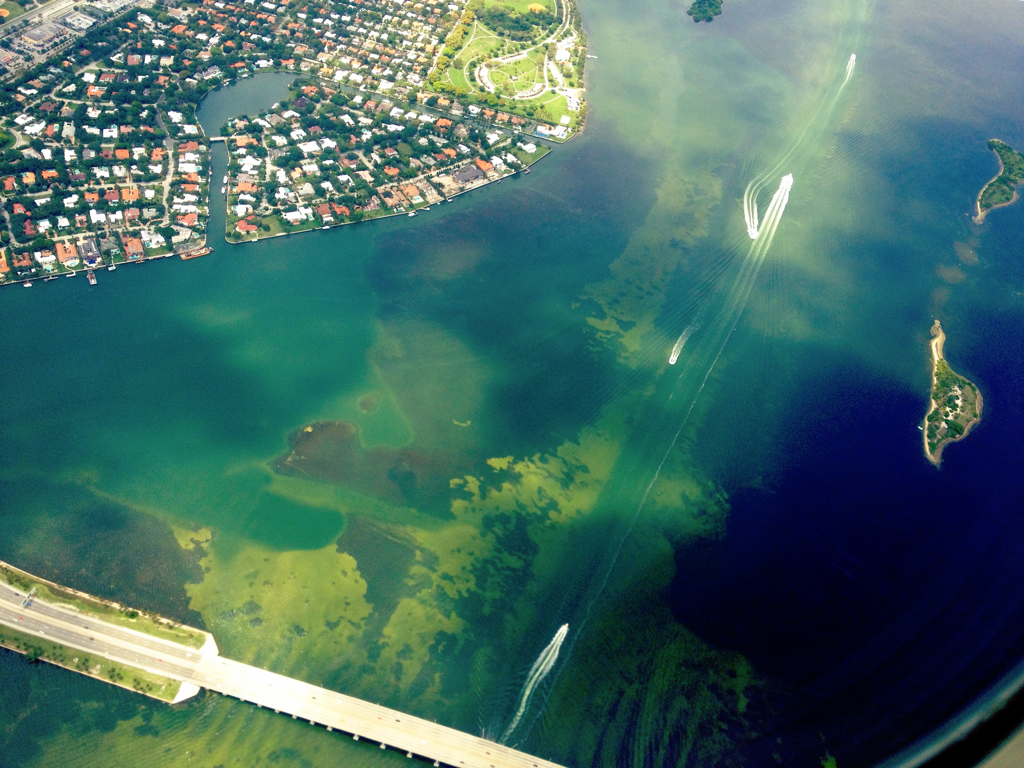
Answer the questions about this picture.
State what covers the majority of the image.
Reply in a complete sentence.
The scene is dominated by water.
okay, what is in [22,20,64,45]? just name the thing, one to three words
building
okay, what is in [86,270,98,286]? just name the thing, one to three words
ship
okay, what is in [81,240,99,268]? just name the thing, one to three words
house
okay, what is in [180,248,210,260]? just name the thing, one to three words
ship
